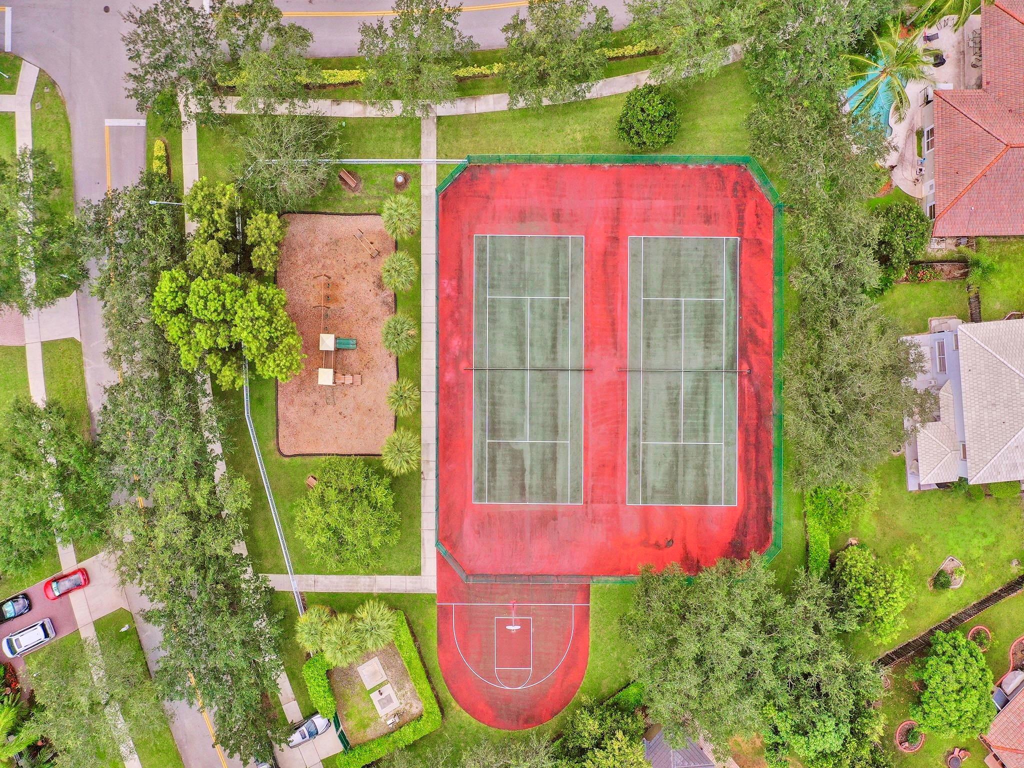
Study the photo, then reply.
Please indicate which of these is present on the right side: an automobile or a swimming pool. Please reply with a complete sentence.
What appears on the right side is a swimming pool.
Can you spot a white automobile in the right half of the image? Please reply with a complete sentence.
No, there is no white automobile in the right half of the image.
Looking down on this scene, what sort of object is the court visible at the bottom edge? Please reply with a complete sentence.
The court visible at the bottom edge in the image is a basketball court.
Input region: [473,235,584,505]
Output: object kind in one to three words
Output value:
tennis court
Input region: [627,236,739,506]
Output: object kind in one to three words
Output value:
tennis court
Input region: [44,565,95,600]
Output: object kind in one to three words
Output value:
car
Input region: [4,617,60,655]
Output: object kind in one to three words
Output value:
car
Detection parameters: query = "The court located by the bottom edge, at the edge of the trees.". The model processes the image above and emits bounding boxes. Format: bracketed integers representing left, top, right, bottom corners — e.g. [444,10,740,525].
[437,549,591,731]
